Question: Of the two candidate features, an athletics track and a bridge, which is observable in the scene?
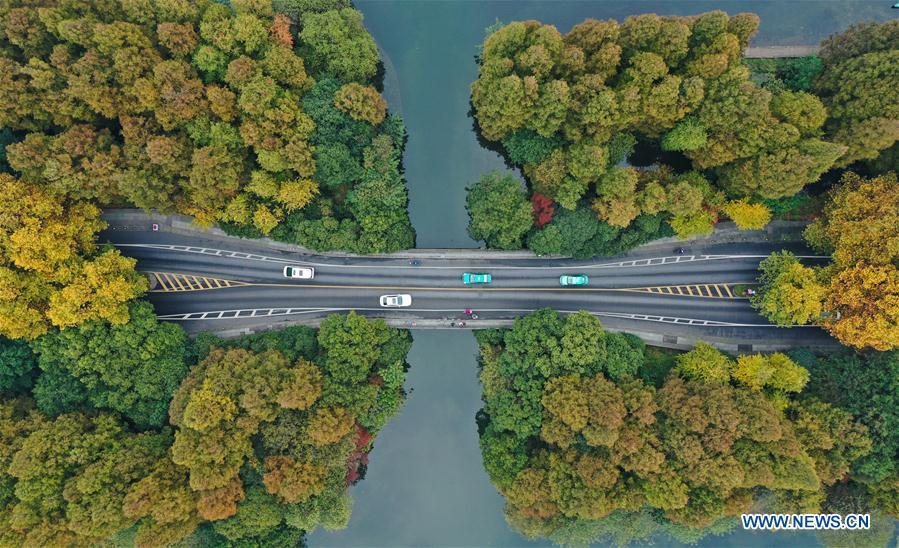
bridge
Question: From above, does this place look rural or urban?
rural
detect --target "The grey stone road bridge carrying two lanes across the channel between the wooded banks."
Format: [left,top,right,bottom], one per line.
[397,248,499,329]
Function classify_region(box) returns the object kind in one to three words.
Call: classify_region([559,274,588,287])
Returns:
vehicle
